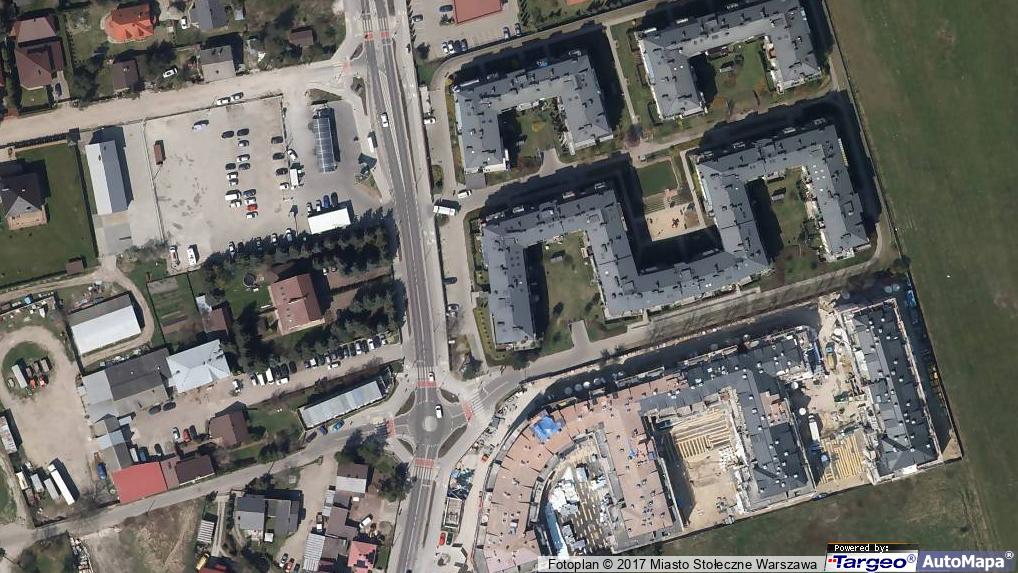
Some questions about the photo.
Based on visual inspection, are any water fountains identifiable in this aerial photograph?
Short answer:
No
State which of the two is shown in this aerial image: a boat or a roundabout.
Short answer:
roundabout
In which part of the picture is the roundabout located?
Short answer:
bottom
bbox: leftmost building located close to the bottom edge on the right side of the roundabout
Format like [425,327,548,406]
[476,366,687,573]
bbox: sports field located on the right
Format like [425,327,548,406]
[636,159,677,198]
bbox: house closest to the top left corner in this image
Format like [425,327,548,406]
[16,16,56,44]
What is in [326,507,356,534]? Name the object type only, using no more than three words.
shed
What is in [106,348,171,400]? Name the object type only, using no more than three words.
building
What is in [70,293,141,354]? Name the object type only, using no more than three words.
barn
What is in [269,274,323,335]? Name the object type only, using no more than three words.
house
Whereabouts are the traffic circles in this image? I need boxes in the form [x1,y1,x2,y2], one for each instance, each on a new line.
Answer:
[404,395,456,448]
